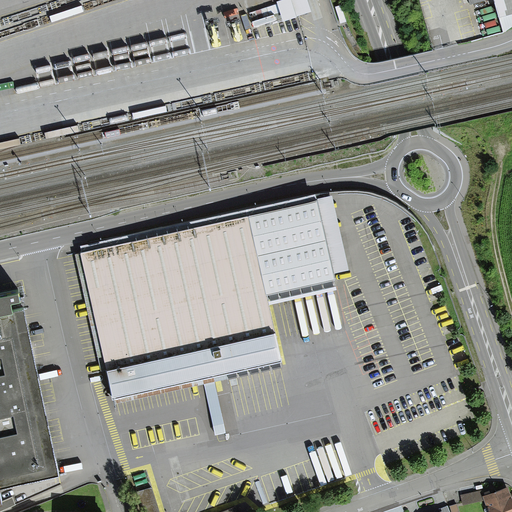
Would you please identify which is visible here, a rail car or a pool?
rail car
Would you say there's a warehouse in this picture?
Yes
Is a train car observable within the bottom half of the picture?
No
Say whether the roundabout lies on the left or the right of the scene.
right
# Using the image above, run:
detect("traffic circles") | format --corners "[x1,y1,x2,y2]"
[378,130,469,218]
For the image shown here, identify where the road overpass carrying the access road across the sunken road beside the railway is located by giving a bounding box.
[352,28,512,84]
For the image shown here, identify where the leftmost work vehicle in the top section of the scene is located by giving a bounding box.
[205,19,222,46]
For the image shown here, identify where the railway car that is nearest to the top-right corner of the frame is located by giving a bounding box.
[260,72,310,88]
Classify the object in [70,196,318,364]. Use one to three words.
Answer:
warehouse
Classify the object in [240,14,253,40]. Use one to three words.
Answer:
vehicle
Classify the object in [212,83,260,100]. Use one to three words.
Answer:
rail car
